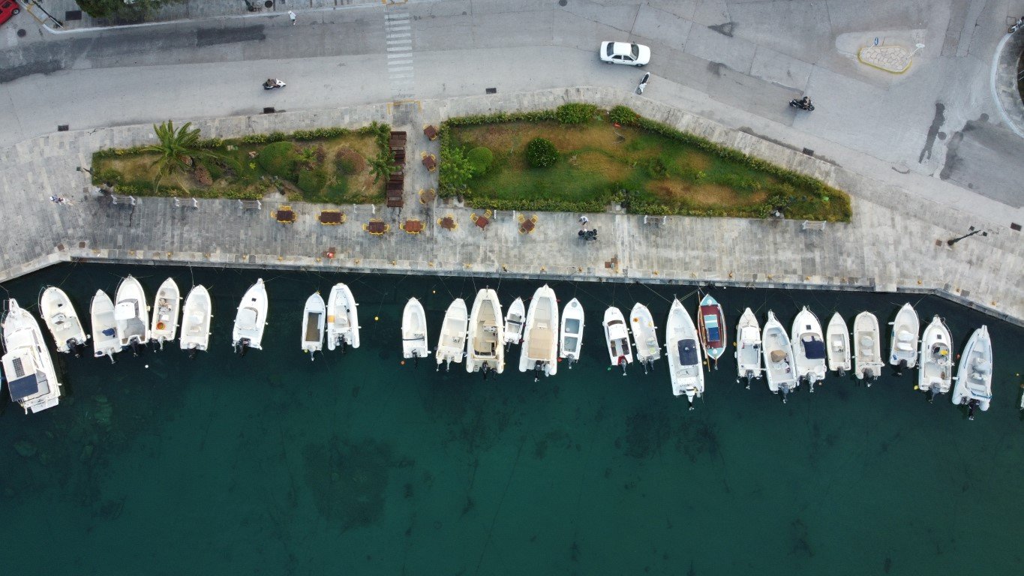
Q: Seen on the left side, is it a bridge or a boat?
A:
boat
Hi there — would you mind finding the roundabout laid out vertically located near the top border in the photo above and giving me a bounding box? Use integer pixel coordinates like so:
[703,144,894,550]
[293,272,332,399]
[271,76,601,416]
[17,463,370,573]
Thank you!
[991,24,1024,130]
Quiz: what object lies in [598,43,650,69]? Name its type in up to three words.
car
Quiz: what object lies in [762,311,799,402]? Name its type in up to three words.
boat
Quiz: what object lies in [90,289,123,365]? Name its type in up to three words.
boat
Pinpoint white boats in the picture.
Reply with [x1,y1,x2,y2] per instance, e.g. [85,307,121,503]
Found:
[850,312,886,388]
[888,303,922,377]
[762,311,799,402]
[40,286,91,358]
[519,286,561,383]
[0,303,63,418]
[178,284,214,362]
[434,298,469,372]
[664,296,706,411]
[952,327,994,414]
[826,312,852,377]
[791,307,828,394]
[150,277,183,353]
[325,284,362,357]
[917,315,957,405]
[465,285,505,378]
[504,297,526,351]
[733,308,762,388]
[90,289,123,365]
[112,275,152,356]
[560,298,585,372]
[302,292,327,362]
[602,306,633,374]
[400,298,431,371]
[630,303,663,371]
[231,280,267,357]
